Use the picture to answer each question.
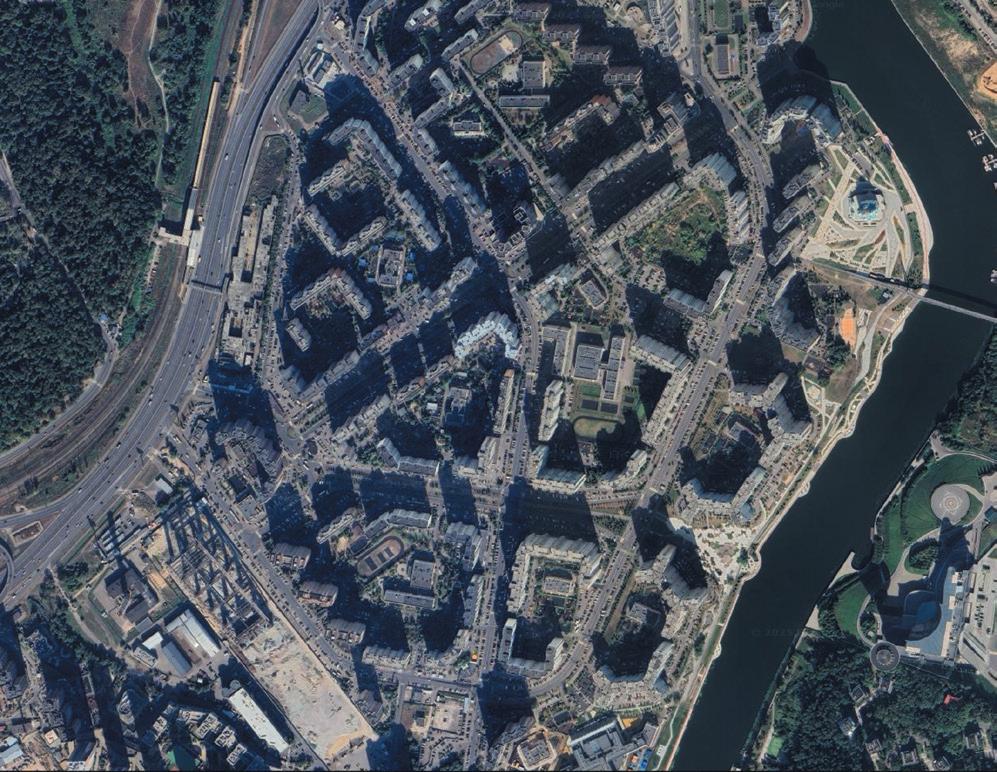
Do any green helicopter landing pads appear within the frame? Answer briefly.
No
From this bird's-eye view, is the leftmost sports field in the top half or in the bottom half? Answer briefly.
bottom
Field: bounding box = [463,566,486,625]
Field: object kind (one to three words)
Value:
building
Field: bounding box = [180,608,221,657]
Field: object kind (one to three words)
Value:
shed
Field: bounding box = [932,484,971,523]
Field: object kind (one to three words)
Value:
helipad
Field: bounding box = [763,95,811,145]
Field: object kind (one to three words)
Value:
building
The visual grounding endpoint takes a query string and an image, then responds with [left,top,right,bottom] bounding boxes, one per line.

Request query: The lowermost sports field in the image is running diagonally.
[349,529,410,583]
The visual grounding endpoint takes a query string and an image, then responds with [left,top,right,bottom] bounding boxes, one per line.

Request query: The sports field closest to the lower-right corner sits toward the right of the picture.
[571,384,646,440]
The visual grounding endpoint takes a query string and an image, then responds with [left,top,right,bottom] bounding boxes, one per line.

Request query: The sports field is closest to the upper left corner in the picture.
[462,22,533,84]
